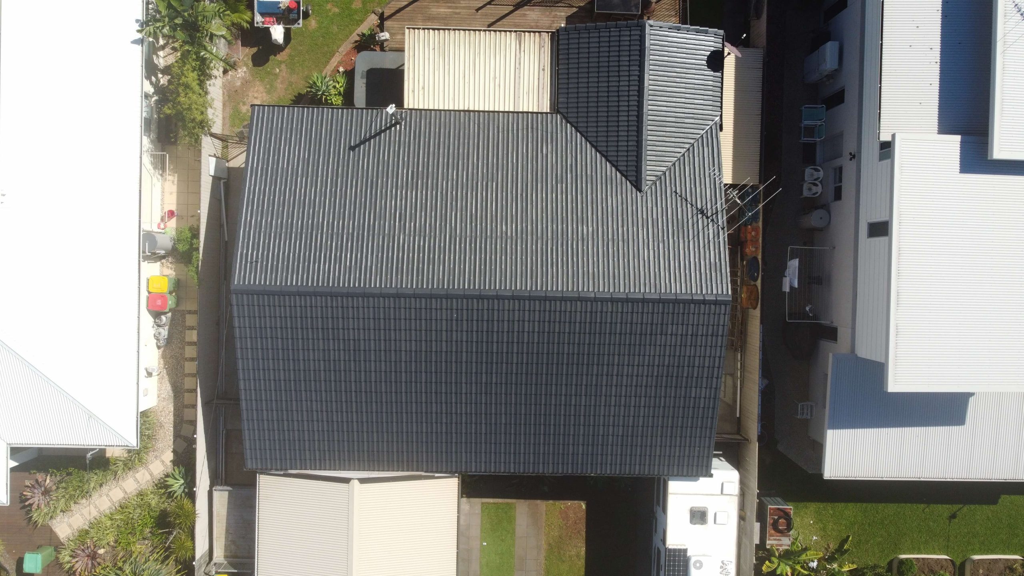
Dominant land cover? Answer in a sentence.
What you mostly see from above here is buildings.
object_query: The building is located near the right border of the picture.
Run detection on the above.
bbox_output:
[808,0,1024,483]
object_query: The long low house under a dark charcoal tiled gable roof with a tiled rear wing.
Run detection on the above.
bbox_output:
[227,19,733,478]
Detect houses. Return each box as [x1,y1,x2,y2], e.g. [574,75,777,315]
[227,19,733,478]
[0,0,160,508]
[808,0,1024,483]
